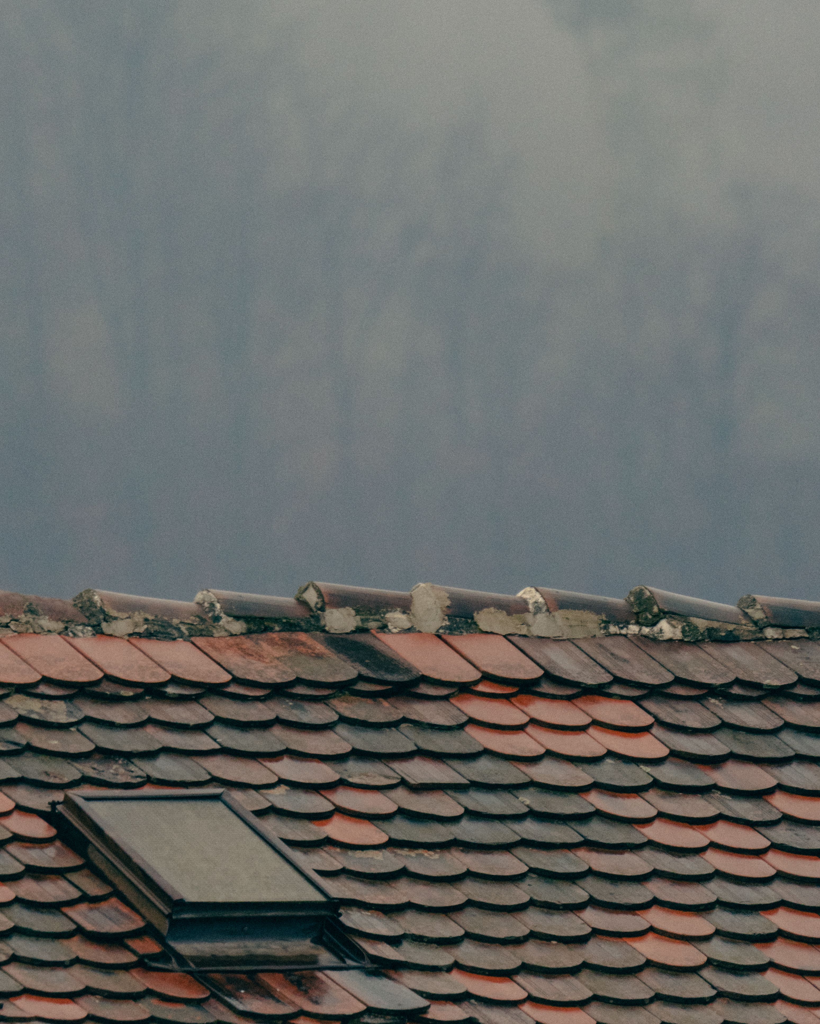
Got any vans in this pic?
No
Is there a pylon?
No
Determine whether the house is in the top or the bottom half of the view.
bottom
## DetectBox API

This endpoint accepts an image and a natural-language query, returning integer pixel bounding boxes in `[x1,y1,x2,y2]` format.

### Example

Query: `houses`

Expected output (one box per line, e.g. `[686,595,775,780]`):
[0,582,820,1024]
